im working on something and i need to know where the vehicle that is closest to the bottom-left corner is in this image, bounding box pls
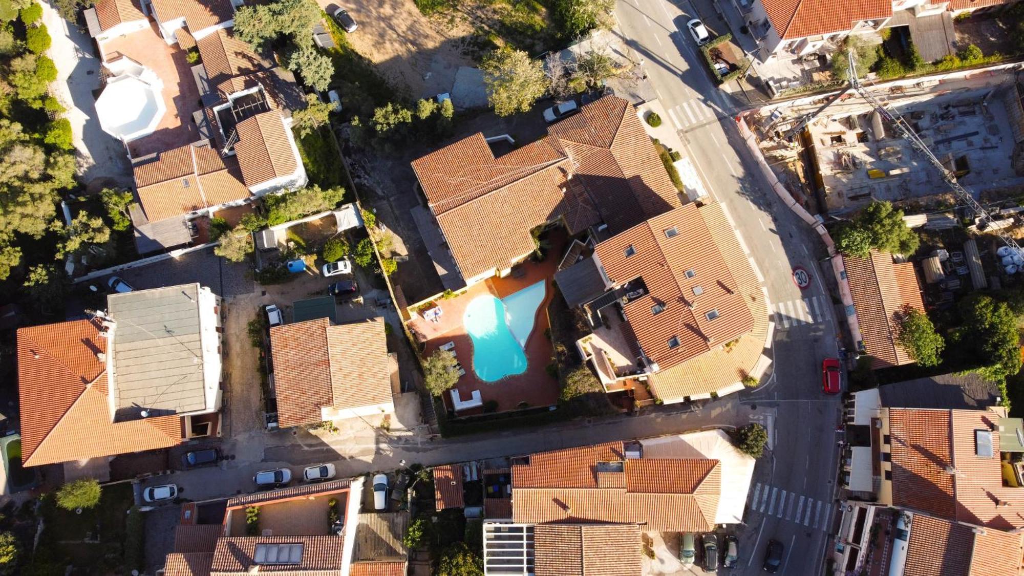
[143,483,179,503]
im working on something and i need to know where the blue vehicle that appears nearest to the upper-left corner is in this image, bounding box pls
[104,273,140,293]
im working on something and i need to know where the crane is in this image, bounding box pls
[765,53,1024,265]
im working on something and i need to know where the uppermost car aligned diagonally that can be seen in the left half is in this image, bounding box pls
[331,6,360,37]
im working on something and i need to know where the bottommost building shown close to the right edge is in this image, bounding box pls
[885,511,1022,576]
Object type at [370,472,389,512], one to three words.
car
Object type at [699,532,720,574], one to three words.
car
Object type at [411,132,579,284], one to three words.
house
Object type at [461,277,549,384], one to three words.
swimming pool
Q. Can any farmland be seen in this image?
No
